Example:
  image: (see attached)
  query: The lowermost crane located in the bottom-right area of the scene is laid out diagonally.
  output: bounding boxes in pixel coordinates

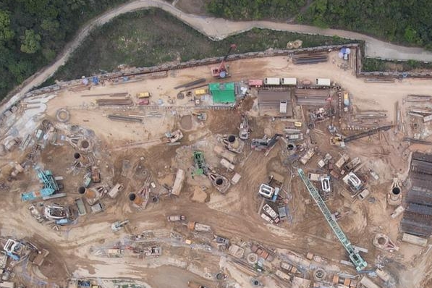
[299,169,372,276]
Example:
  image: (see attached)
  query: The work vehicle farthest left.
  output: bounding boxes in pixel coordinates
[110,219,131,234]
